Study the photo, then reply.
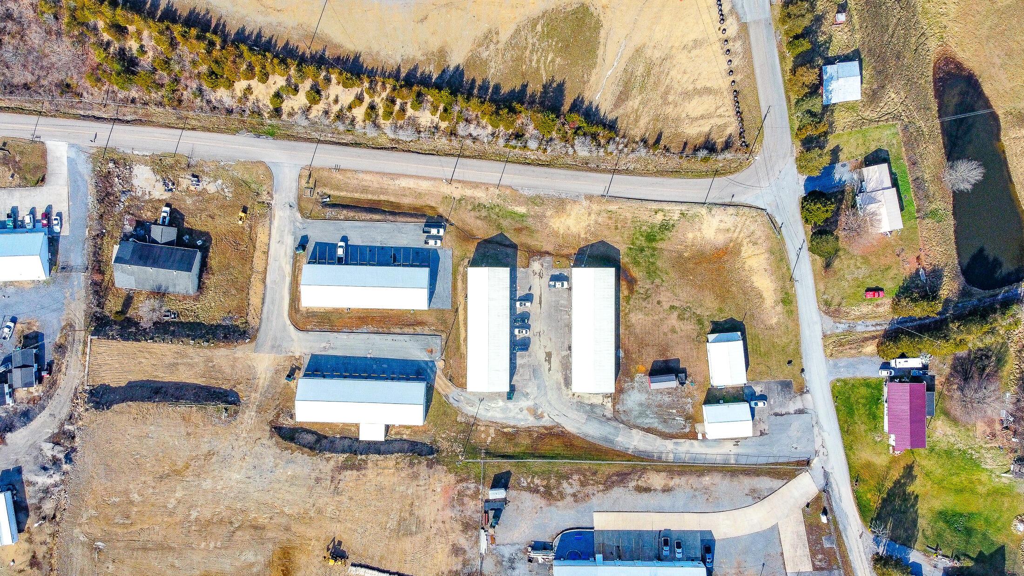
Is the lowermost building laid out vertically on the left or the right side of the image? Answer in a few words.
left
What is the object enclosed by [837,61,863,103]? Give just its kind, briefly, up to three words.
barn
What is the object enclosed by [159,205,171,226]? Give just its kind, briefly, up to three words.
vehicle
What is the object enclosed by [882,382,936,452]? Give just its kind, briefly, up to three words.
house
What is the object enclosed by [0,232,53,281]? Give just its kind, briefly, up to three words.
building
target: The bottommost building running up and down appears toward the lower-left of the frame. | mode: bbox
[0,487,28,546]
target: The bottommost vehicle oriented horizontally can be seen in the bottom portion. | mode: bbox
[321,554,351,567]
